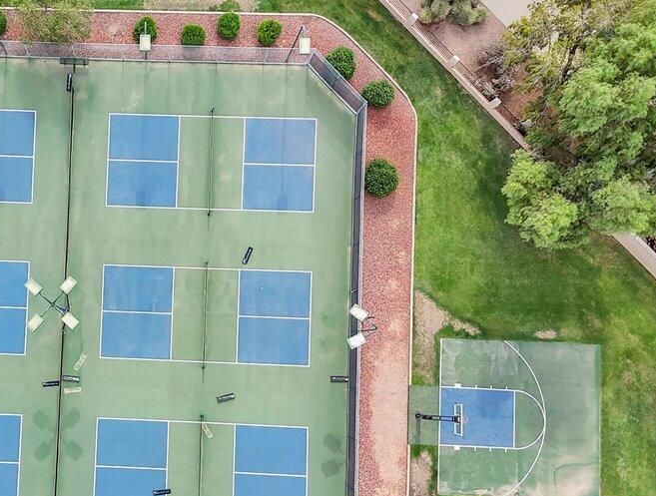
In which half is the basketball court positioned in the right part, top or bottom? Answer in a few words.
bottom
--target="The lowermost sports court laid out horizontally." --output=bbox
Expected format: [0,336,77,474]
[94,418,308,496]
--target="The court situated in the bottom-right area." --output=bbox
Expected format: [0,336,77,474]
[411,339,601,496]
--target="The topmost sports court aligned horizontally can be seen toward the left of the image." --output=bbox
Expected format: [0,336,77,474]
[105,112,316,213]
